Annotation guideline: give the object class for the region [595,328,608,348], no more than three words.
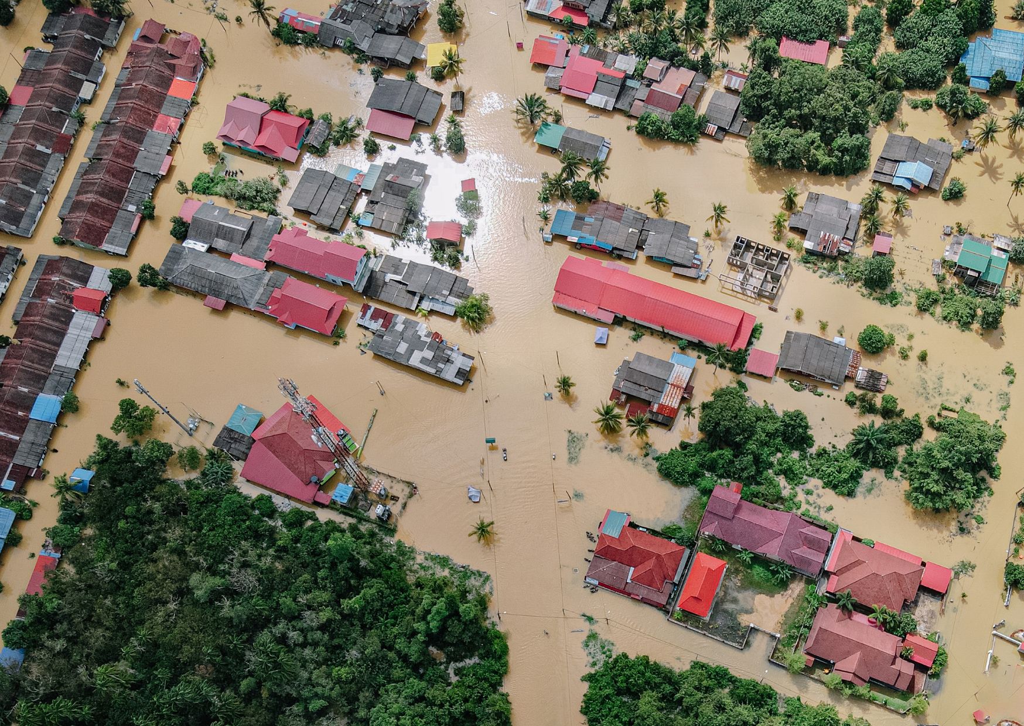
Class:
gazebo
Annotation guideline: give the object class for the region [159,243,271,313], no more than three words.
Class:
house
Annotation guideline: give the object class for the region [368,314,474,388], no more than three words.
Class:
building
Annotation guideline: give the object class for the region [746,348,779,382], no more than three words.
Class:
shed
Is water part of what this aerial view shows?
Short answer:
Yes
